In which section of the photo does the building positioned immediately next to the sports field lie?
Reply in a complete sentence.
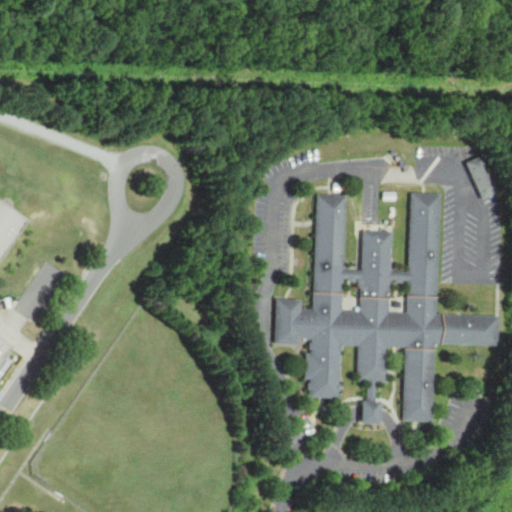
The building positioned immediately next to the sports field is in the right part of the image.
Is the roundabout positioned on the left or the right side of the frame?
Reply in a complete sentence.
You can find the roundabout on the left side of the picture.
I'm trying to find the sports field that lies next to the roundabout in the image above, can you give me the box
[30,308,233,512]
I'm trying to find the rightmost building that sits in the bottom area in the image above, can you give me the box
[275,194,500,424]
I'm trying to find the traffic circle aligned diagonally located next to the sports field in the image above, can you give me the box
[0,146,185,426]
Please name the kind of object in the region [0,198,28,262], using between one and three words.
building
